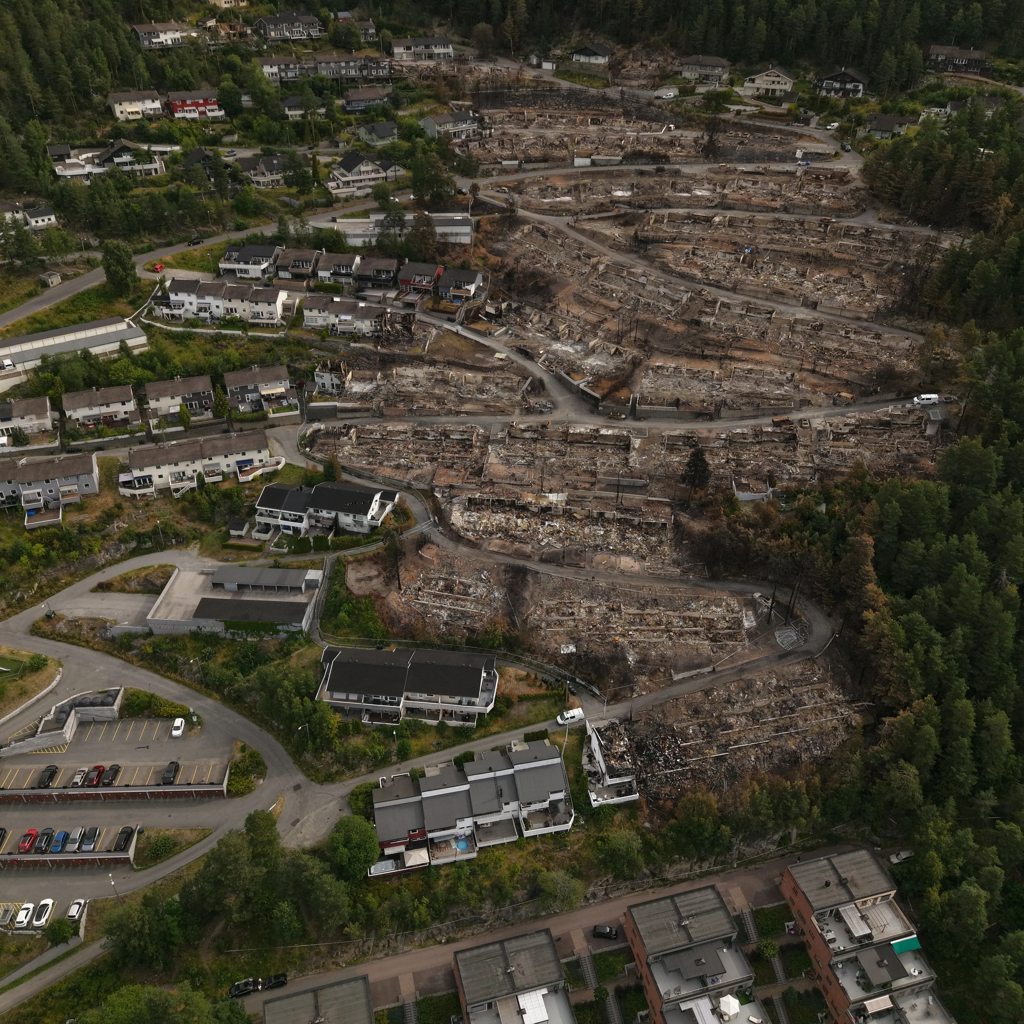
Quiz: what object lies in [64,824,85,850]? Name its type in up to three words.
car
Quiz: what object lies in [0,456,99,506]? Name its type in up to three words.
house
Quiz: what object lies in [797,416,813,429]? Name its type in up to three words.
vehicle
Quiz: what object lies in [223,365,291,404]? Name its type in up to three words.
house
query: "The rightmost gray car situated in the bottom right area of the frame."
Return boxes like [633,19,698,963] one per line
[889,847,917,865]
